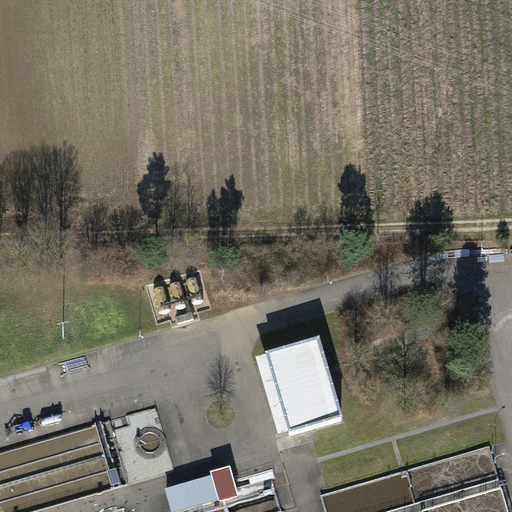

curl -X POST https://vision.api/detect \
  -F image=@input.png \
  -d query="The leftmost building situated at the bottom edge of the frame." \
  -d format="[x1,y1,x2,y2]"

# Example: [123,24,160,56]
[166,466,238,512]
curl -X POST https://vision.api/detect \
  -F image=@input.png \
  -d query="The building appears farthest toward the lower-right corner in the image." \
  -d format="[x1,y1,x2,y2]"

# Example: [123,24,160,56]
[256,336,342,438]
